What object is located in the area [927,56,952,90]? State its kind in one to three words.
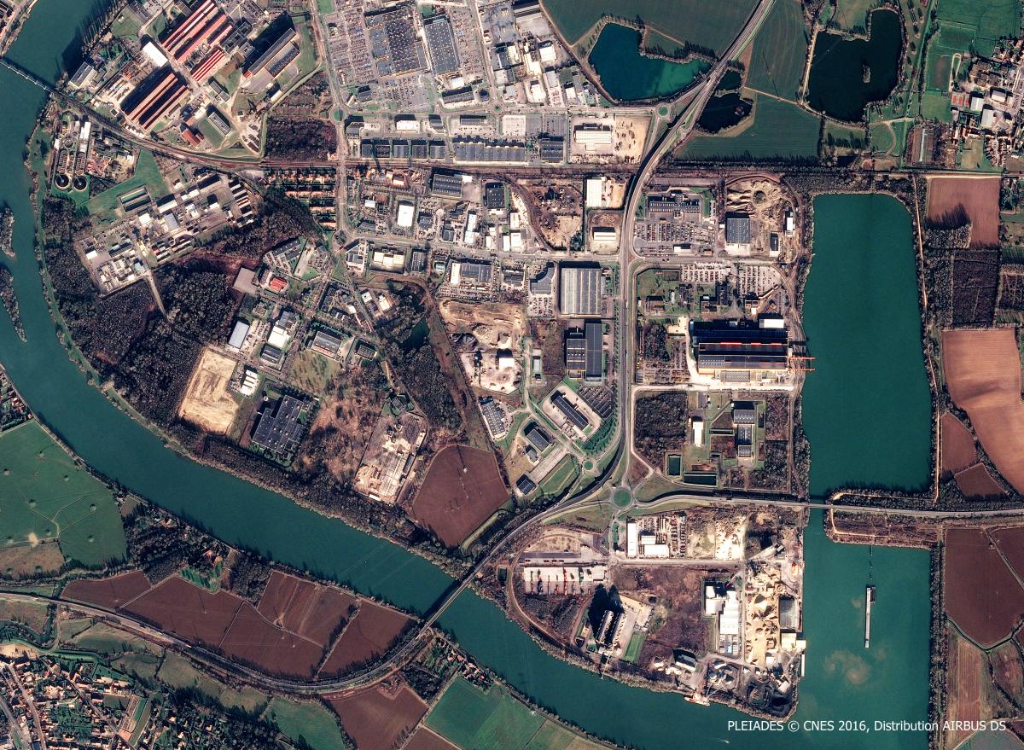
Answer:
soccer field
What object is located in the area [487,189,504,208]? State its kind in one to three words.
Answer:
building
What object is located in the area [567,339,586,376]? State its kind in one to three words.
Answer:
building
